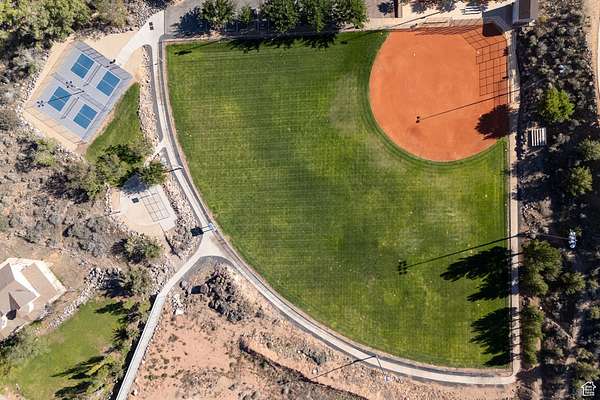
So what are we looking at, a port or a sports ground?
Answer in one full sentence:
What you see here is a sports ground.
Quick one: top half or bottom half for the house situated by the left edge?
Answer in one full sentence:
The house situated by the left edge sits in the bottom half of the picture.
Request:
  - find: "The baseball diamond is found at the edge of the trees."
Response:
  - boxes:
[167,29,508,367]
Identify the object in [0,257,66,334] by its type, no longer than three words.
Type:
house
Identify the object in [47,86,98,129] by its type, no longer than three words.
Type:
sports court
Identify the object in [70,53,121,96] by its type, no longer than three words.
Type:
sports court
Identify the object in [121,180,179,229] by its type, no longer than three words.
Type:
basketball court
